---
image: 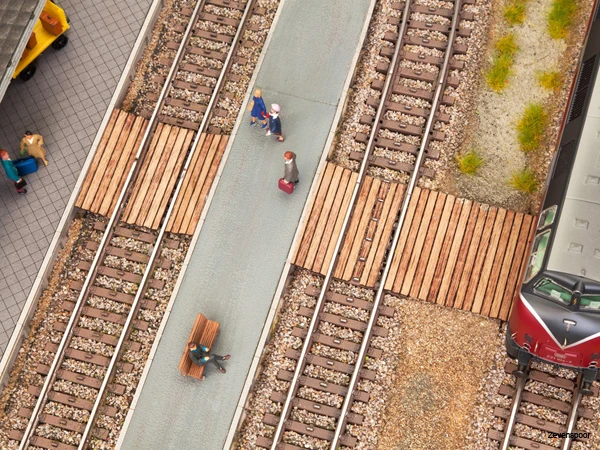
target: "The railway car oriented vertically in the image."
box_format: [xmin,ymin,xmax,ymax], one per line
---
[506,0,600,396]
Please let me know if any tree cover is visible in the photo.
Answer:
No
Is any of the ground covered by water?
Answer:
No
